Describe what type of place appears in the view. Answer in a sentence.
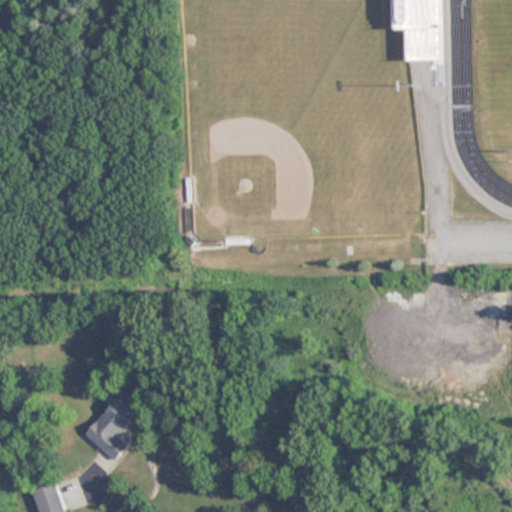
What you see here is a sports ground.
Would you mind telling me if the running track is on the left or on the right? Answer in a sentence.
The running track is on the right side of the image.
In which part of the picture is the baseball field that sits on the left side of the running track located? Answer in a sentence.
The baseball field that sits on the left side of the running track is in the top part of the image.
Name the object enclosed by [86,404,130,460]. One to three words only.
house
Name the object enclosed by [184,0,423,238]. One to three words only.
baseball field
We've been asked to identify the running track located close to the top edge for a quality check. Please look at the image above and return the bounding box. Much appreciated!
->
[452,0,512,203]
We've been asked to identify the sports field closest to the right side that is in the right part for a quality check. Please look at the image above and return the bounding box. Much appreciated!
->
[473,0,512,179]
